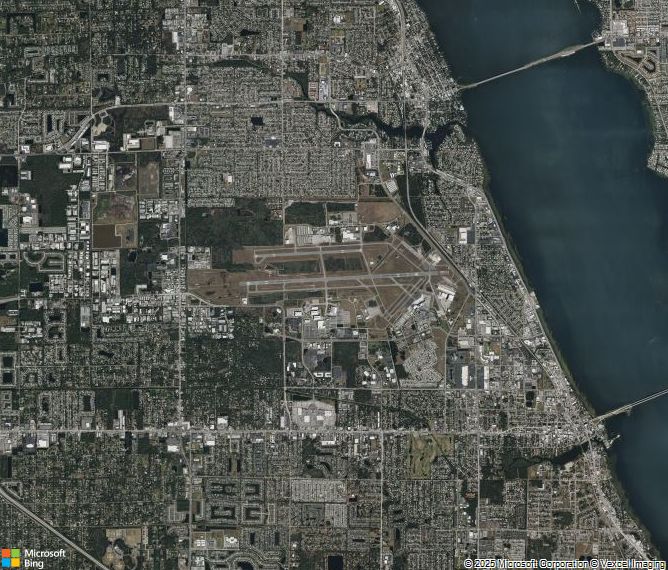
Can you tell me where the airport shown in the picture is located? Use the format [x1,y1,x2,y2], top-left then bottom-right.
[187,227,470,331]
